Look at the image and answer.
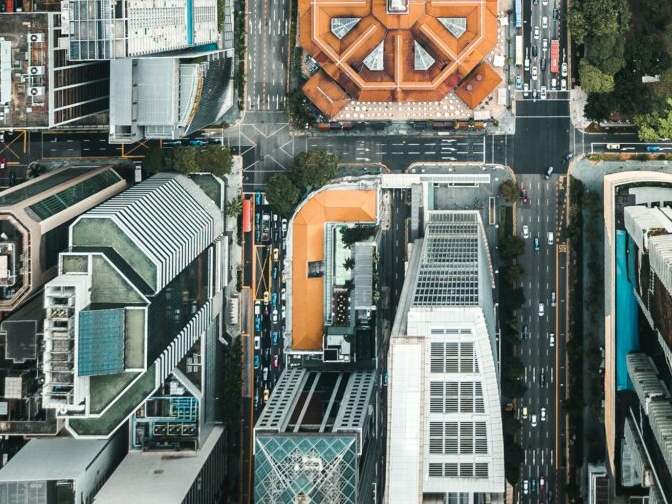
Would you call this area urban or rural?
urban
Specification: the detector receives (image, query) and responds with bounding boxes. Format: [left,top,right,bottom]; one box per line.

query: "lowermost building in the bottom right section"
[588,465,611,504]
